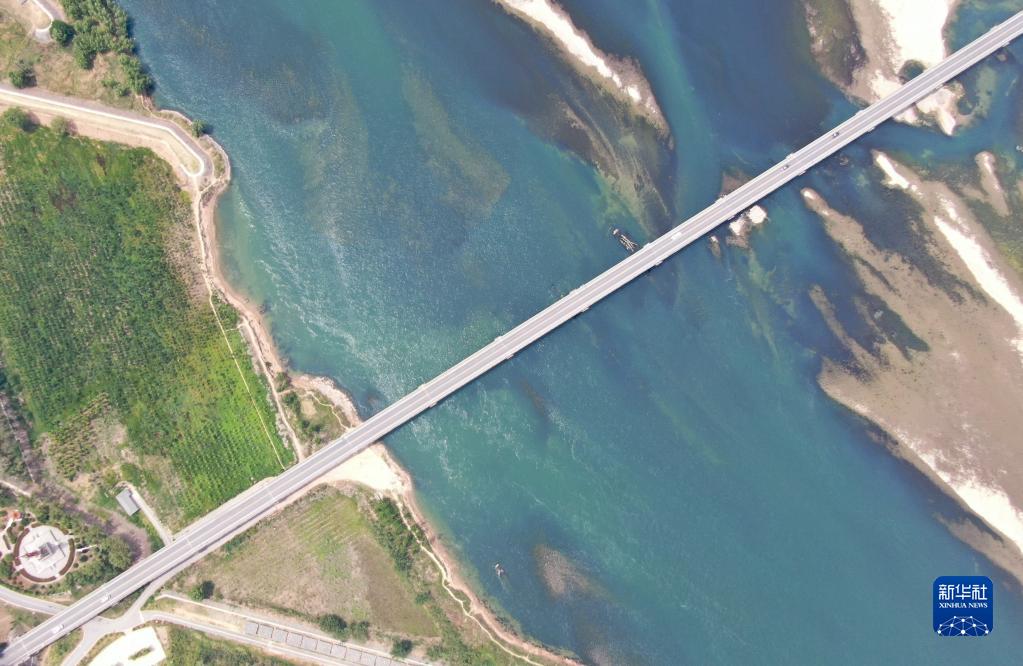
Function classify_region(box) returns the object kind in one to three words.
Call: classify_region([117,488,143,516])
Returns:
shed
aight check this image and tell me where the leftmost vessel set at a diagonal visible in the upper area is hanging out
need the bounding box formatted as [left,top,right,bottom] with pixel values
[611,227,635,251]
